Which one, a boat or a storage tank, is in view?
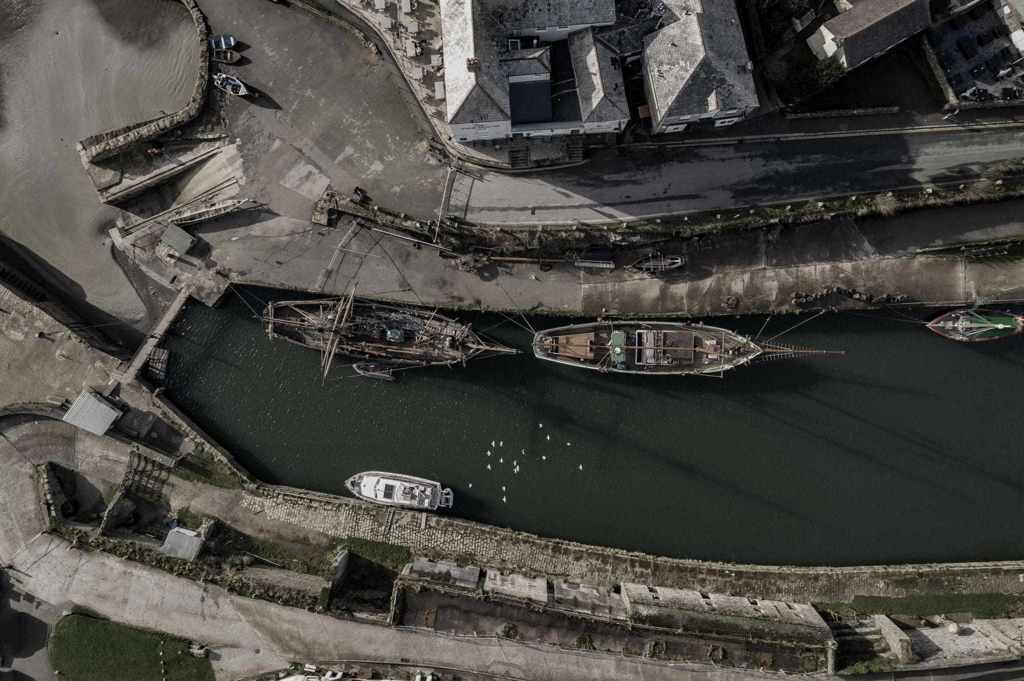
boat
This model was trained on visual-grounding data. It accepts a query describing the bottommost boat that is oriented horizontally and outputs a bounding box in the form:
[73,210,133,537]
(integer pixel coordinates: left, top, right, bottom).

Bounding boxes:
[344,471,450,512]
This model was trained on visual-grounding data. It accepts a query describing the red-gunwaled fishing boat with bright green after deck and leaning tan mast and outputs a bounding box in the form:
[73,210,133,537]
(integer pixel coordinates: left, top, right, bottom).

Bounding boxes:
[917,308,1024,342]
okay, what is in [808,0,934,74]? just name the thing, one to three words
house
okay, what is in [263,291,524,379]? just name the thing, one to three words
ship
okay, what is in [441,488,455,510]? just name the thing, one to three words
boat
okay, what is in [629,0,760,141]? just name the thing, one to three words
house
